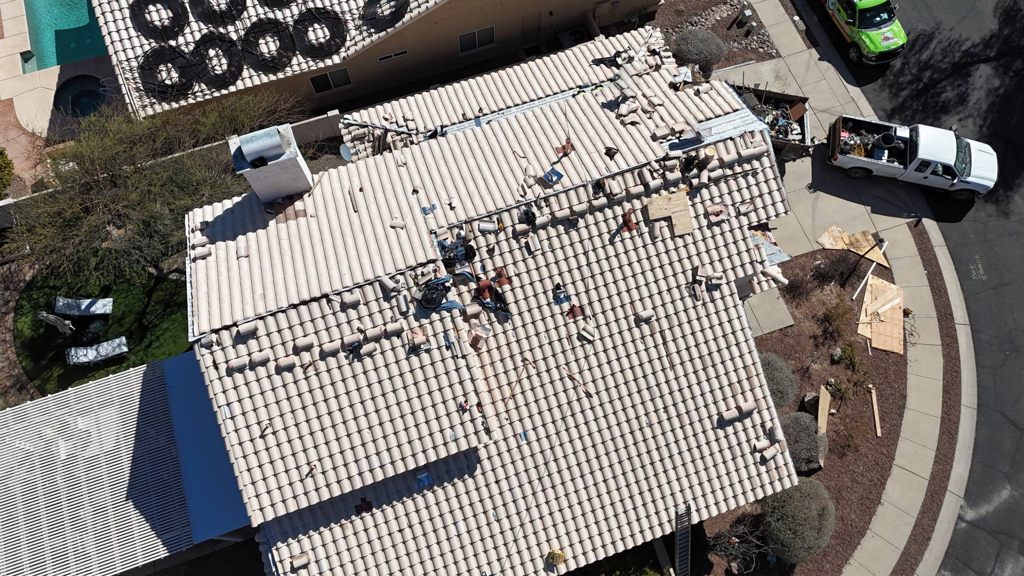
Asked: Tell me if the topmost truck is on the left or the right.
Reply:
right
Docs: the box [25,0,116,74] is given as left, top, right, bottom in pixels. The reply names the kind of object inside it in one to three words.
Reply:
swimming pool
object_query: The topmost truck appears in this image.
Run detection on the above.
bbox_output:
[818,0,917,71]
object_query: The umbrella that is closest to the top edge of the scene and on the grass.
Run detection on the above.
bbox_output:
[39,313,100,346]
